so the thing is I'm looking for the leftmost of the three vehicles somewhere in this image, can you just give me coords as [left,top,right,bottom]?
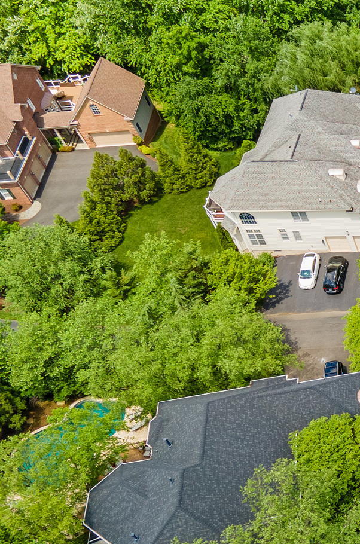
[295,250,319,285]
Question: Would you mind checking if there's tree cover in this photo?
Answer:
Yes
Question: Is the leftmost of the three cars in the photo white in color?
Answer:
Yes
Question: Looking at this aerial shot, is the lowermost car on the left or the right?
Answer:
right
